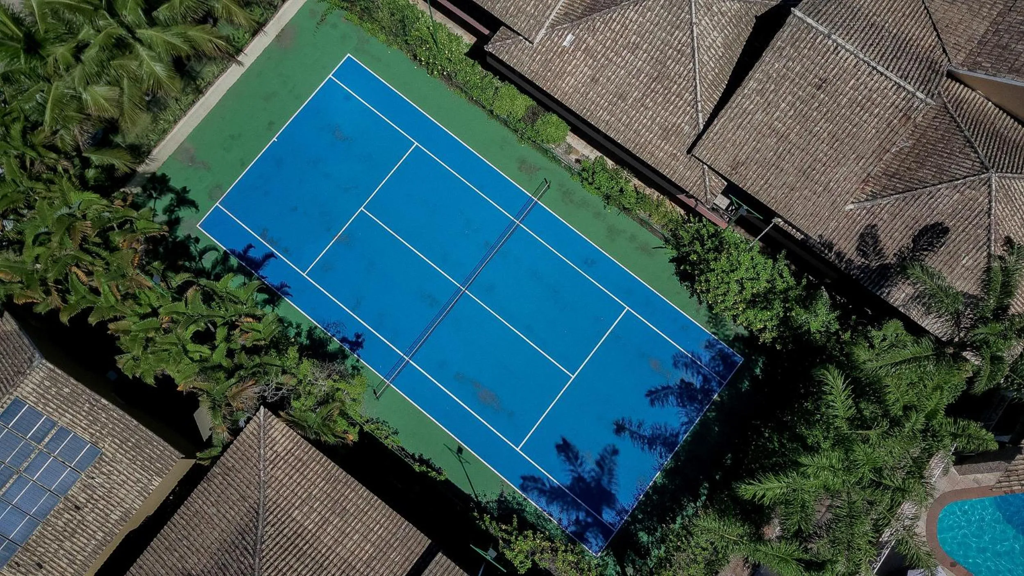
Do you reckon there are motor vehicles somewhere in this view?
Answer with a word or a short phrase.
No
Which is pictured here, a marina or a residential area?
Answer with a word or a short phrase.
residential area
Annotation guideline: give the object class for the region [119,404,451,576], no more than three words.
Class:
house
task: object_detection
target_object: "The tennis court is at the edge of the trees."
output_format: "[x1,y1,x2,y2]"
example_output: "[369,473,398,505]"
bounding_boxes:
[136,0,829,576]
